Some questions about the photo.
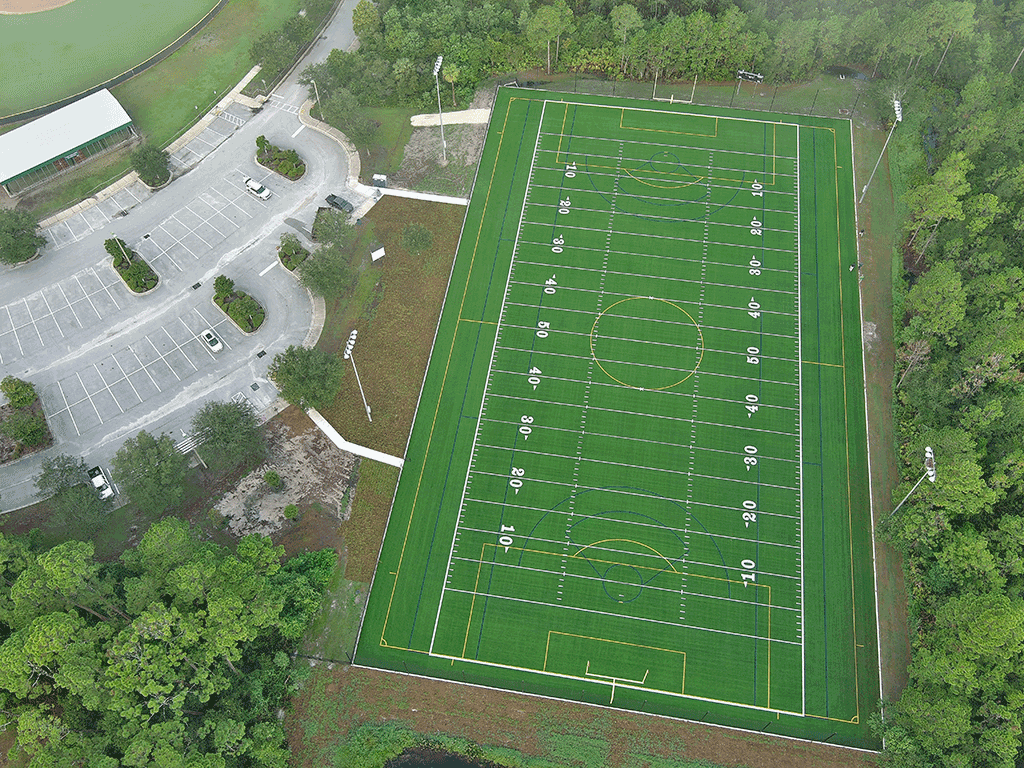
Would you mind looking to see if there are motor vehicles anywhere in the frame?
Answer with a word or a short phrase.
Yes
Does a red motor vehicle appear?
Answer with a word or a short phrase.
No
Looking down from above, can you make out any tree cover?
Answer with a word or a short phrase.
Yes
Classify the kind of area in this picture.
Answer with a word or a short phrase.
sports ground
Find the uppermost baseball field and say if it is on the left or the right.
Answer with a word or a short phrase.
left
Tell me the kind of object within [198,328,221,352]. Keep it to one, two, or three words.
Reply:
car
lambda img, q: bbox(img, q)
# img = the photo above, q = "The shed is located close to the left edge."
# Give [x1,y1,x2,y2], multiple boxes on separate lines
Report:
[0,87,144,198]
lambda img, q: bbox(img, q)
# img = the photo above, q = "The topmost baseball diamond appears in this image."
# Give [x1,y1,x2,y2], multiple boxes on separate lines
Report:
[0,0,228,115]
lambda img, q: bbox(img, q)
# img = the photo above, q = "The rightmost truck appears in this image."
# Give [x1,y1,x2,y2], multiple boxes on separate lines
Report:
[322,191,354,212]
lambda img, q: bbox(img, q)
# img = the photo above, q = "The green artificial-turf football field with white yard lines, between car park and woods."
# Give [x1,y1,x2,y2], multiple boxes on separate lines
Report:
[349,84,883,751]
